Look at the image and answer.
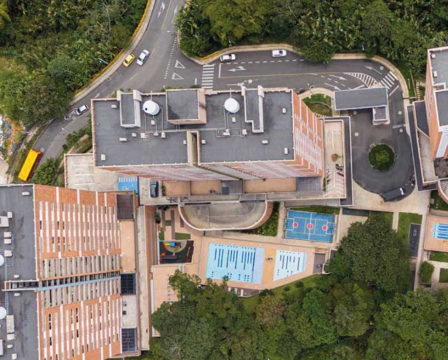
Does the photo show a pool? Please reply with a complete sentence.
Yes, the image includes a pool.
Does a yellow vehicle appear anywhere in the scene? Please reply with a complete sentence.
Yes, a yellow vehicle appears in the view.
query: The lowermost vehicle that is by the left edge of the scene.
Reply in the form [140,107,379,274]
[15,150,41,182]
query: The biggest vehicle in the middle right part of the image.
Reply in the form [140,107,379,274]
[381,189,405,202]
